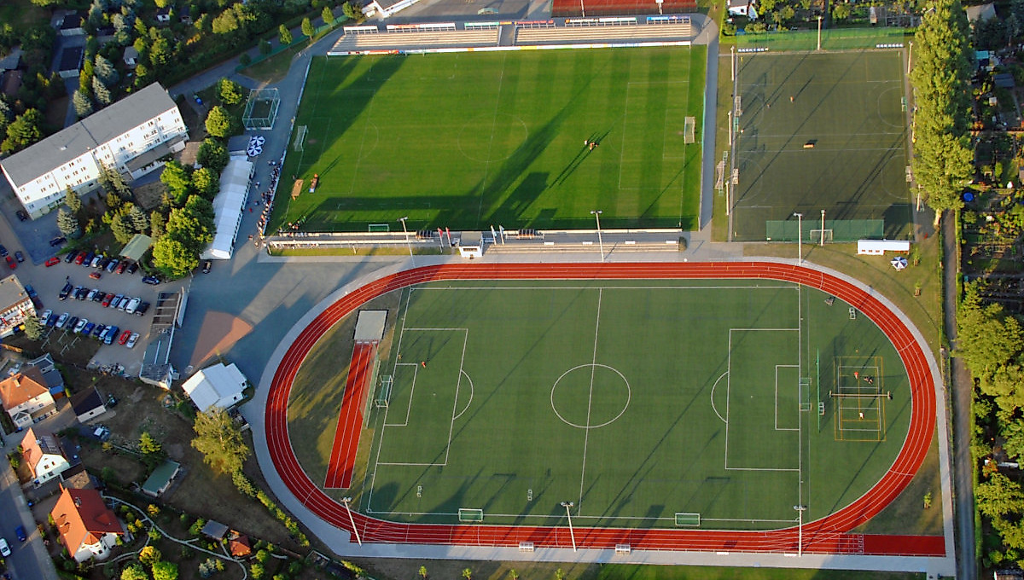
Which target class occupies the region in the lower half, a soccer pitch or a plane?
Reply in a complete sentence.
What appears in the lower half is a soccer pitch.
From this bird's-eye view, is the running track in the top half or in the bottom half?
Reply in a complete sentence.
The running track is in the bottom half of the image.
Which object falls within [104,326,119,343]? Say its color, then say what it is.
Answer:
blue vehicle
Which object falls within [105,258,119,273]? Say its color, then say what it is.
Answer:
blue car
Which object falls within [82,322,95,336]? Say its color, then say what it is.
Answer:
blue vehicle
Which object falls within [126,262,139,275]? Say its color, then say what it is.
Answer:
black vehicle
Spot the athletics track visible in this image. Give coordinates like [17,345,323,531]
[265,262,947,556]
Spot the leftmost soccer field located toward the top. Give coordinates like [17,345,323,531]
[266,44,707,238]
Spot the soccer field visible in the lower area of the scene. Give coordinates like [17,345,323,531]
[357,278,911,530]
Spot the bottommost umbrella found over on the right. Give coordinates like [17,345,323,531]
[891,254,908,268]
